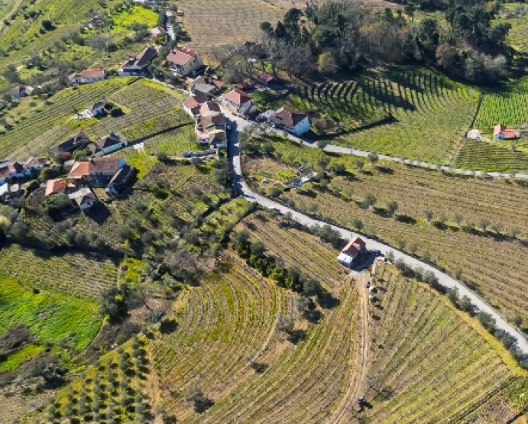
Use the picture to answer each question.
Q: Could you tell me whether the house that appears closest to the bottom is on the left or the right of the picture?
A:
right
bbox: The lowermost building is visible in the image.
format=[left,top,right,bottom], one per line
[333,235,372,269]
